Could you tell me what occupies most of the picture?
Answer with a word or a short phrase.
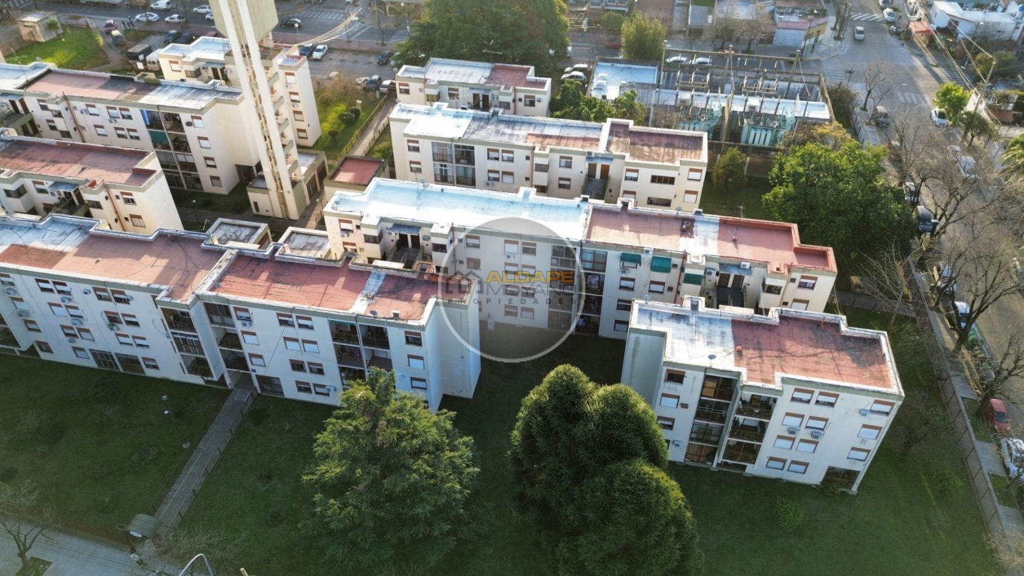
buildings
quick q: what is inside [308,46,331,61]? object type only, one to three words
car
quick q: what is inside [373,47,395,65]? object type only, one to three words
car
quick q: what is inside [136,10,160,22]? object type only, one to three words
vehicle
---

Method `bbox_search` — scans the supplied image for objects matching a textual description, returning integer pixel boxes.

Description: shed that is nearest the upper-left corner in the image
[12,8,65,40]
